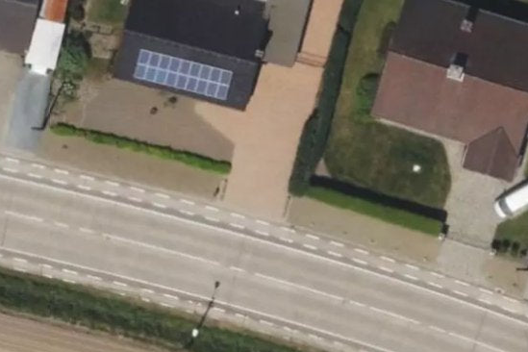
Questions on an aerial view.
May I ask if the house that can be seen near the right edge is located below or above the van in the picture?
above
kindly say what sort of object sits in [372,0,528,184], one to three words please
house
